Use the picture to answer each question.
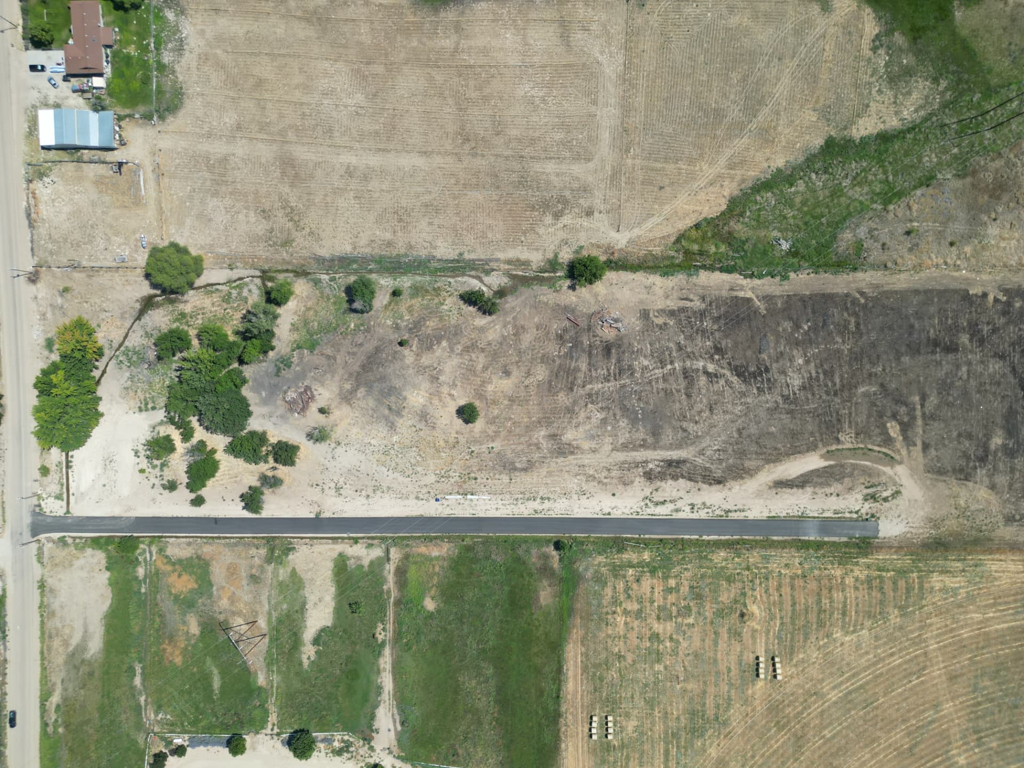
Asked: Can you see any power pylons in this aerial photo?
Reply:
Yes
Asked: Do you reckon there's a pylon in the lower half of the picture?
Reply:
Yes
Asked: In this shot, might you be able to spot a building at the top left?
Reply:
Yes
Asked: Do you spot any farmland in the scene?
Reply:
Yes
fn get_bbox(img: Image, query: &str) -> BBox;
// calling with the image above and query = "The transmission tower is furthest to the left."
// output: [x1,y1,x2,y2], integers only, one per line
[232,620,267,663]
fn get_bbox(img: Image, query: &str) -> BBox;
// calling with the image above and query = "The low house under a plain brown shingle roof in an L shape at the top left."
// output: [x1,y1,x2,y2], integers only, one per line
[64,1,117,77]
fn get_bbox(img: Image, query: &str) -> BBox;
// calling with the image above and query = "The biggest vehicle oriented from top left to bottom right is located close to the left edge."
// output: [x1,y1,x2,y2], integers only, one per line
[47,75,61,90]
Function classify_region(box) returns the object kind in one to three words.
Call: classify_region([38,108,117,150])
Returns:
barn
